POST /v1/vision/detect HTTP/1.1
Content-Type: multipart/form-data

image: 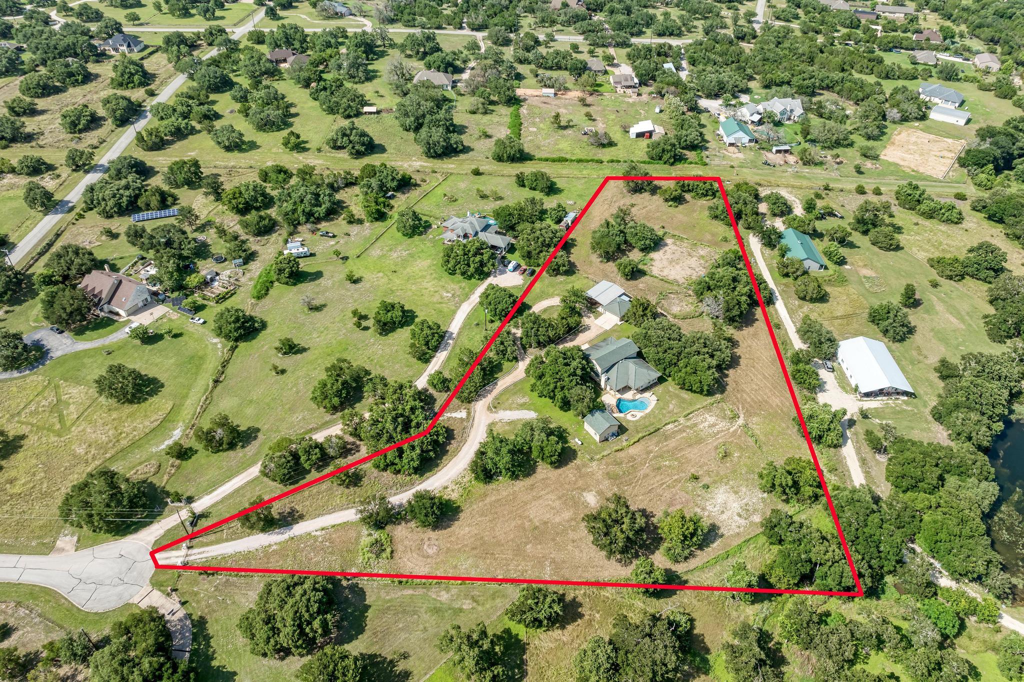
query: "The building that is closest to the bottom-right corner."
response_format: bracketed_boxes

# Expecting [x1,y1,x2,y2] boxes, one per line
[835,338,920,412]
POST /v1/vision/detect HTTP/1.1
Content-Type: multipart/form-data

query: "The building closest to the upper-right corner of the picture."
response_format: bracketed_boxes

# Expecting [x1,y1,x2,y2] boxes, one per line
[974,54,1000,71]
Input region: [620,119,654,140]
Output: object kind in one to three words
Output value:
shed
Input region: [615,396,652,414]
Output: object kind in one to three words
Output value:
swimming pool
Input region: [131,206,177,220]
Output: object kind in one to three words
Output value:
solar array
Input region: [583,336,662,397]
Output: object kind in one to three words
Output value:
house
